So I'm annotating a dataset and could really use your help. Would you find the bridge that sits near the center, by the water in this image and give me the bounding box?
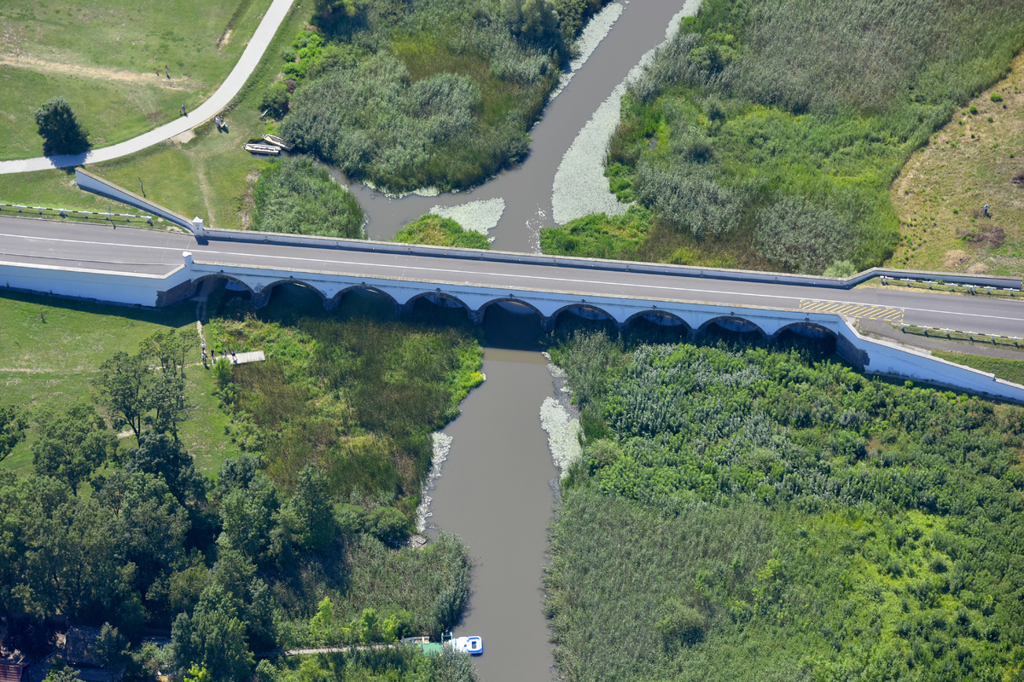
[187,227,846,353]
